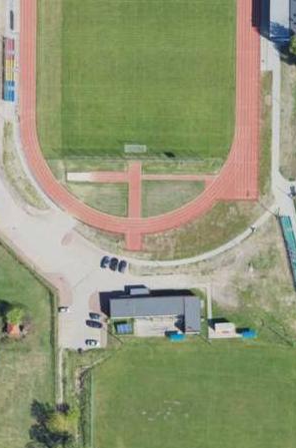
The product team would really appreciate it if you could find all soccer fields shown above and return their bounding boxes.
[94,338,296,448]
[62,0,234,157]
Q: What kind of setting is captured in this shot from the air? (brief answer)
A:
sports ground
